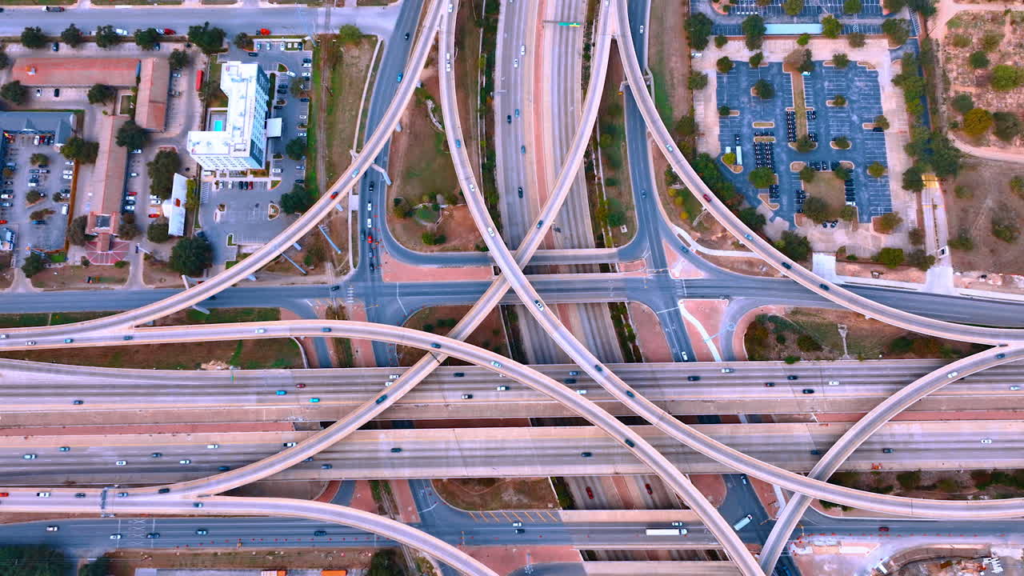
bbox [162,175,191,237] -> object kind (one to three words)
building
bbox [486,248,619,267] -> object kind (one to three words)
bridge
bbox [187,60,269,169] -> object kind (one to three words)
building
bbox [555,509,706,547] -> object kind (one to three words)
overpass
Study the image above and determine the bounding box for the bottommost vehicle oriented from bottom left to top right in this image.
[735,513,753,531]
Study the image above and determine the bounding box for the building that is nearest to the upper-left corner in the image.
[0,112,78,189]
